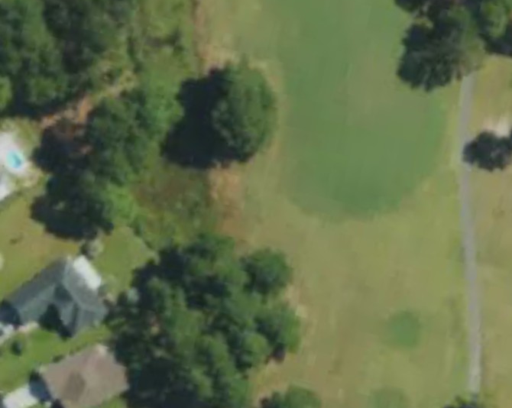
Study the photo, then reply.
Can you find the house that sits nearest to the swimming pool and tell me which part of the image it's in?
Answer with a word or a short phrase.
bottom left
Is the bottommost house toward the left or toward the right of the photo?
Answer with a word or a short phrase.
left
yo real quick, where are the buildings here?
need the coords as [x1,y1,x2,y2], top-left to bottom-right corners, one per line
[0,255,110,342]
[39,340,130,408]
